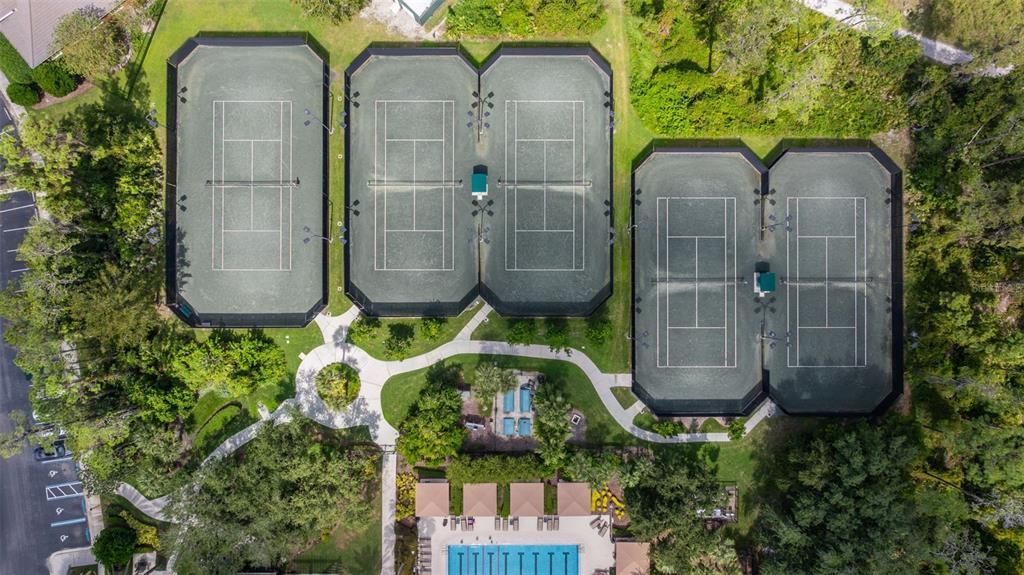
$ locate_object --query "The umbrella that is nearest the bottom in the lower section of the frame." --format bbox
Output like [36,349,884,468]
[418,519,434,536]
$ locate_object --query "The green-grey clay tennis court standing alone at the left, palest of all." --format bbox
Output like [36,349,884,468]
[177,45,322,326]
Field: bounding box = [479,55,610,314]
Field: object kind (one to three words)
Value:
tennis court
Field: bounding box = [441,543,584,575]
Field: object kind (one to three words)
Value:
swimming pool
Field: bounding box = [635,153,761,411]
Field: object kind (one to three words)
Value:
tennis court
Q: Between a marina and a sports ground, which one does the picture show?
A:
sports ground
